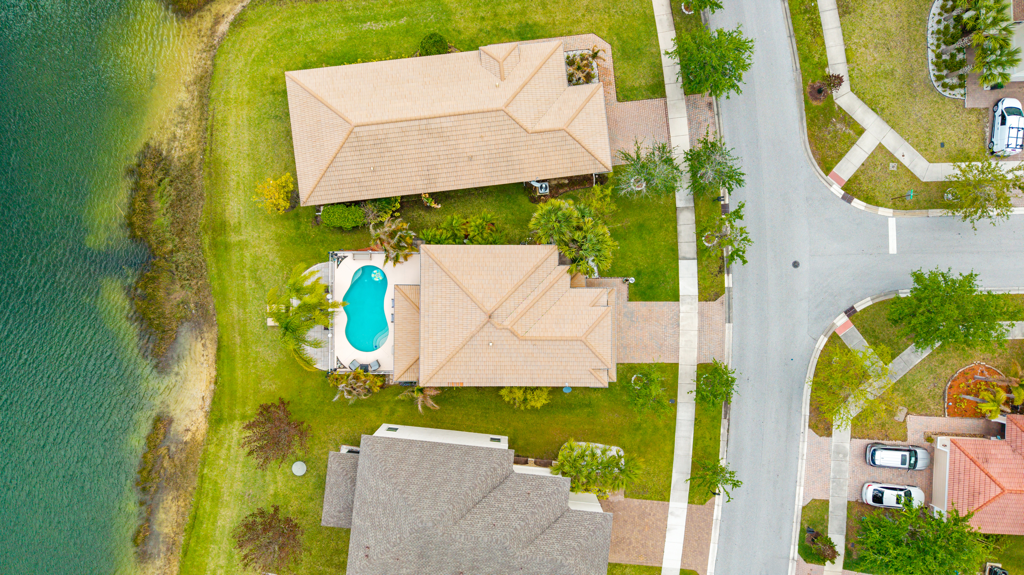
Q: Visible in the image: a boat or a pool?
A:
pool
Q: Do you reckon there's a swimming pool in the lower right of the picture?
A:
No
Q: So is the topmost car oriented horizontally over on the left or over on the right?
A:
right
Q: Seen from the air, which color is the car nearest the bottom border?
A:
white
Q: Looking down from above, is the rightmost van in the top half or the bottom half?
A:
top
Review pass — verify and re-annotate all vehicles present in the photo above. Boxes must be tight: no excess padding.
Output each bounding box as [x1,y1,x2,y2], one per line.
[992,97,1024,157]
[859,479,924,512]
[862,440,930,474]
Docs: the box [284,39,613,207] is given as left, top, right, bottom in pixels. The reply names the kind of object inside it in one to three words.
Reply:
house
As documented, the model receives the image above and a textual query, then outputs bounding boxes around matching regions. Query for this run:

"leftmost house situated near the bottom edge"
[320,425,614,575]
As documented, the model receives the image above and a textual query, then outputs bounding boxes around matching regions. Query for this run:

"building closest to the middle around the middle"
[392,243,617,389]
